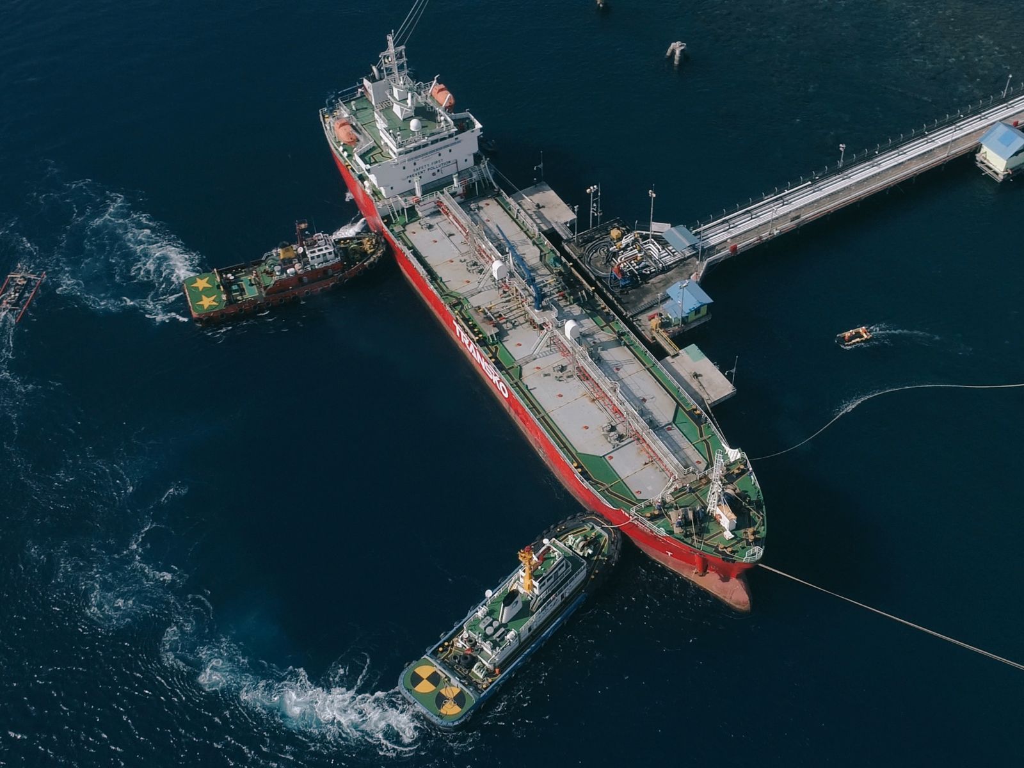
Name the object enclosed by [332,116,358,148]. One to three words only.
boat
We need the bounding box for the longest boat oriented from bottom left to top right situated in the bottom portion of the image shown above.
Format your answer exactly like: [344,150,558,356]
[399,511,630,734]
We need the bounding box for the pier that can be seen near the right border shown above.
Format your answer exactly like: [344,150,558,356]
[689,84,1024,268]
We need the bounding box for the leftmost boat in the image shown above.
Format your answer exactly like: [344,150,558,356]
[0,268,48,320]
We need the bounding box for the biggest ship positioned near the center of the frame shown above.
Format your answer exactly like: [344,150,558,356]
[321,25,763,611]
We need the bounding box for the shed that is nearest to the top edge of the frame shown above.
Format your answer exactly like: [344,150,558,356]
[966,123,1024,192]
